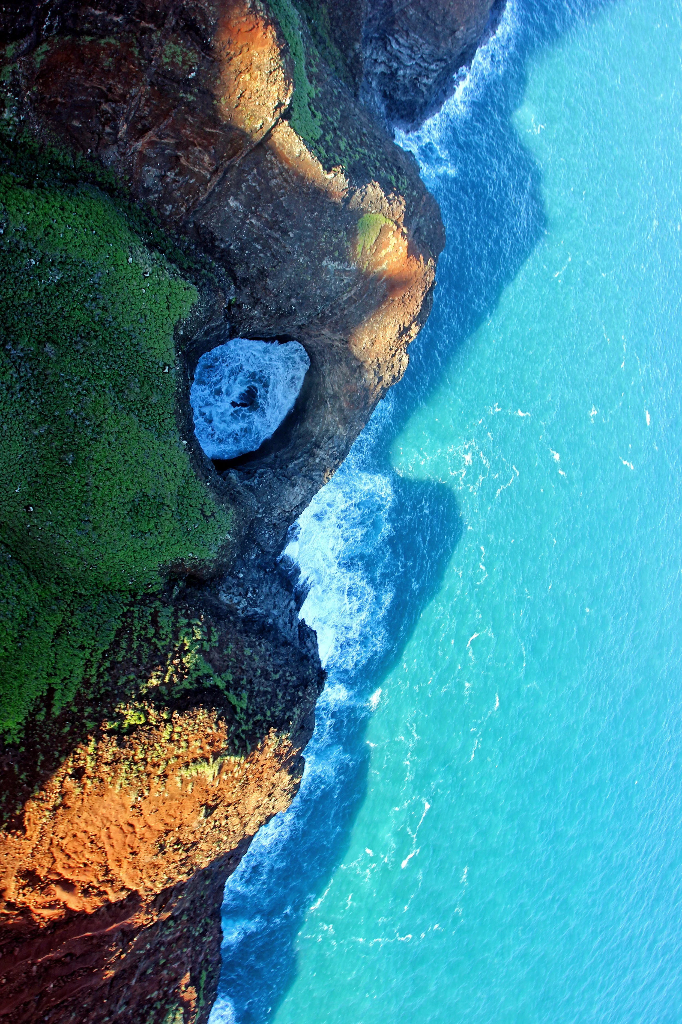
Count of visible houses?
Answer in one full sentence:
There are no houses in this view.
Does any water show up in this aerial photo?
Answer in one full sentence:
Yes, the picture does contain water.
